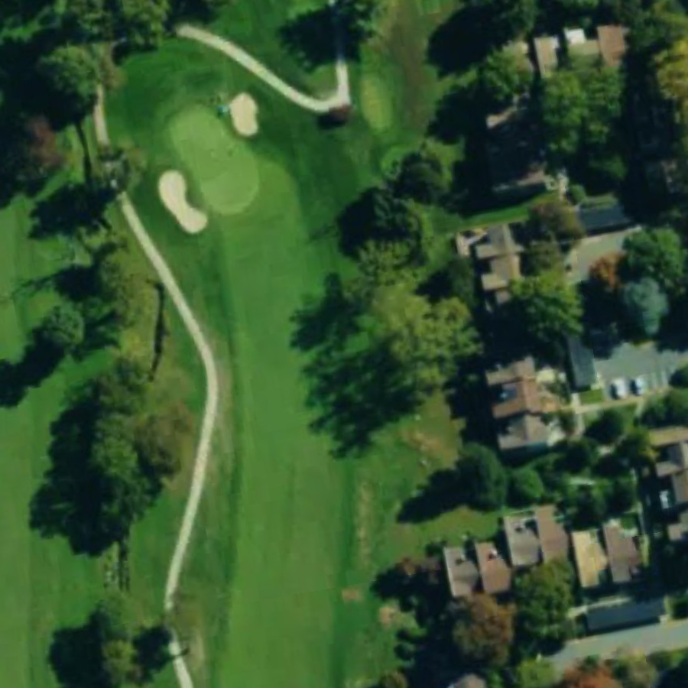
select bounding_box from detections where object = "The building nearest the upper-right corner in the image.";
[595,26,629,68]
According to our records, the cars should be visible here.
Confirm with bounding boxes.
[633,375,644,394]
[616,379,626,397]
